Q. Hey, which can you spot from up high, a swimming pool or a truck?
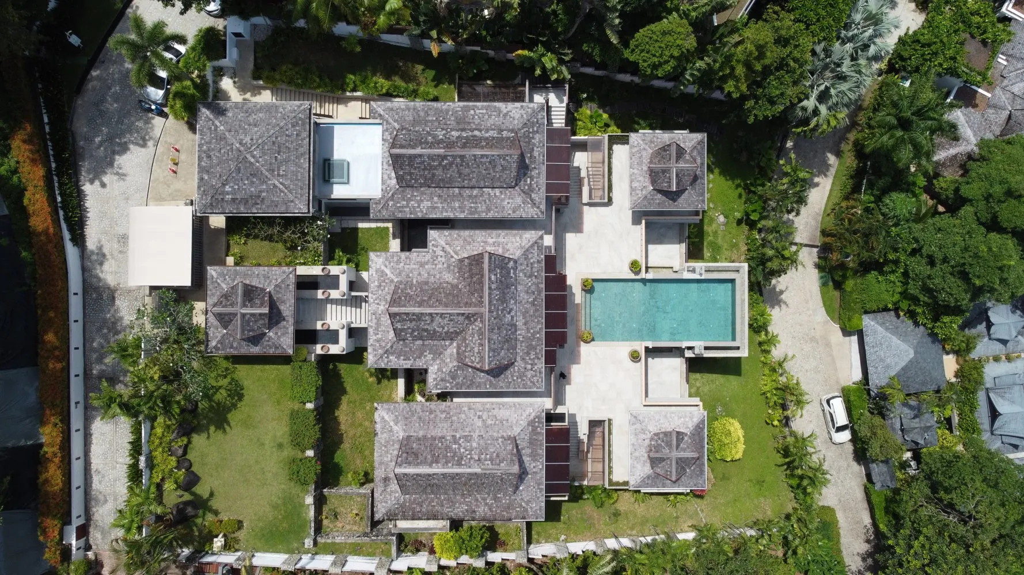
swimming pool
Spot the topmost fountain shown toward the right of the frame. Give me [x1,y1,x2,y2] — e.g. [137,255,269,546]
[682,264,704,277]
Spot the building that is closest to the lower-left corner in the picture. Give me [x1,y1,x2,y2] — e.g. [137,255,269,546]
[206,265,297,355]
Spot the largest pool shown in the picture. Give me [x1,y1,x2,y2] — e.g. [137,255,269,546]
[576,264,748,357]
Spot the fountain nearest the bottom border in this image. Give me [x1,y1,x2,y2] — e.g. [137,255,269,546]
[683,343,704,356]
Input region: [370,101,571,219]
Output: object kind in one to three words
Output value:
house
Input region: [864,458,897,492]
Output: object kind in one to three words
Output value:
shed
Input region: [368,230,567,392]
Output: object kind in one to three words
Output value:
house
